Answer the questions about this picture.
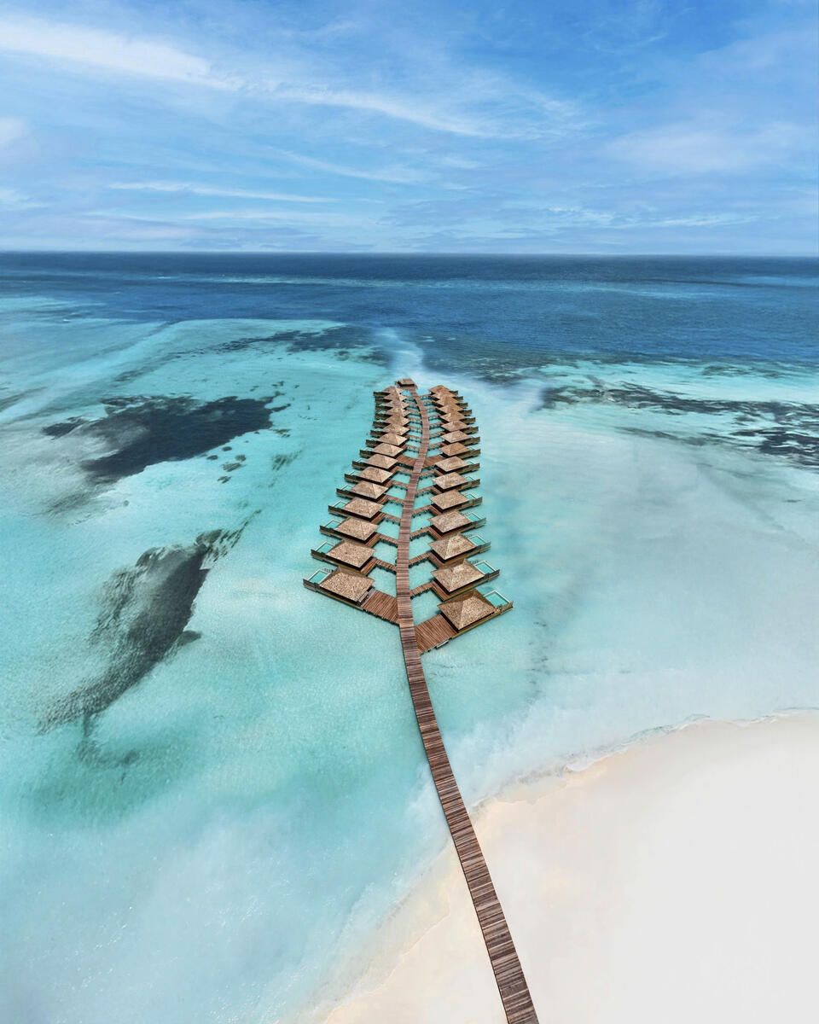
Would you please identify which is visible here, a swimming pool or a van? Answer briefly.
swimming pool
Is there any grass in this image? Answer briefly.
No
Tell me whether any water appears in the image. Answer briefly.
Yes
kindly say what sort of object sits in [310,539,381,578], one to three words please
house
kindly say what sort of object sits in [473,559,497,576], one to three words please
swimming pool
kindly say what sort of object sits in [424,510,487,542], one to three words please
house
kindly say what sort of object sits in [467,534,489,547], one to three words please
swimming pool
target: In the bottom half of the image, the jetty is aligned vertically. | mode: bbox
[397,389,539,1024]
